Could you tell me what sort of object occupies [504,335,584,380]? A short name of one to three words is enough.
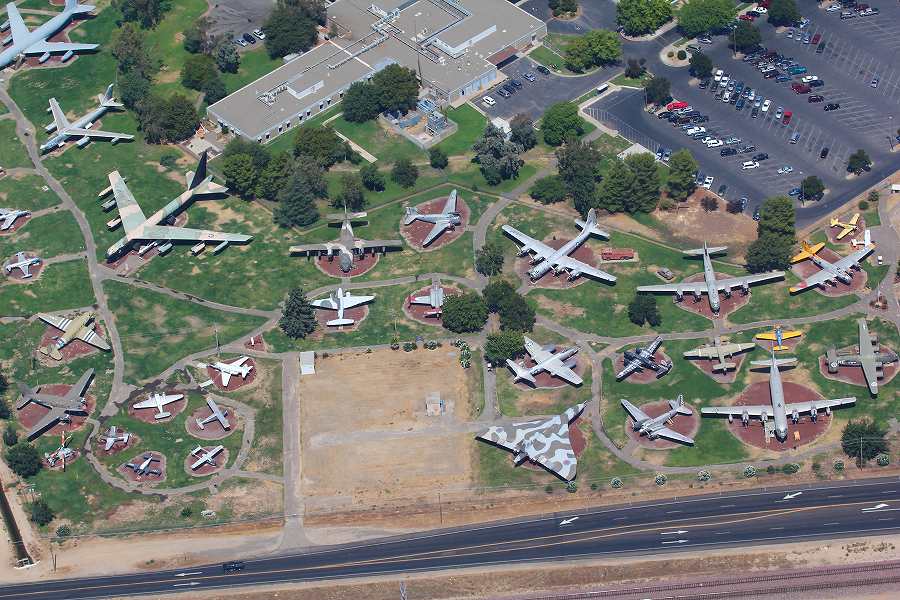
airplane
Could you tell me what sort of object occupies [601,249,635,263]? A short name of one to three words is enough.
vehicle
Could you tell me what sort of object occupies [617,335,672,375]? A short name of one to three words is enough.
airplane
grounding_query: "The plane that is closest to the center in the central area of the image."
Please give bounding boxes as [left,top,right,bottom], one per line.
[405,279,467,311]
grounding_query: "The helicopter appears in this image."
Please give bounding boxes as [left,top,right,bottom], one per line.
[47,435,76,465]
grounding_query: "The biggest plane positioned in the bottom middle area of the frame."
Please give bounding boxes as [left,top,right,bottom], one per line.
[475,402,589,480]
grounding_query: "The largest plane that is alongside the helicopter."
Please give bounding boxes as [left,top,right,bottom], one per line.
[16,367,93,435]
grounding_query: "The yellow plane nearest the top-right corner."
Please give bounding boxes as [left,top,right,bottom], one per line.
[830,213,860,236]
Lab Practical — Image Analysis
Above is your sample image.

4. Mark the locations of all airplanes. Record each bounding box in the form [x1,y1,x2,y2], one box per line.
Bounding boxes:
[105,156,256,261]
[621,394,697,439]
[134,390,184,416]
[209,357,256,386]
[311,286,374,322]
[290,207,402,274]
[787,236,878,289]
[99,425,130,449]
[504,335,584,380]
[701,342,857,441]
[16,367,93,435]
[684,336,756,372]
[502,213,616,283]
[827,316,899,389]
[0,0,99,69]
[756,325,801,349]
[830,213,860,236]
[475,402,589,480]
[637,233,785,312]
[854,231,879,253]
[125,452,163,478]
[0,206,36,225]
[405,279,467,311]
[34,311,111,353]
[197,399,232,429]
[403,188,462,242]
[47,86,134,151]
[617,335,672,375]
[189,444,223,467]
[4,251,42,277]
